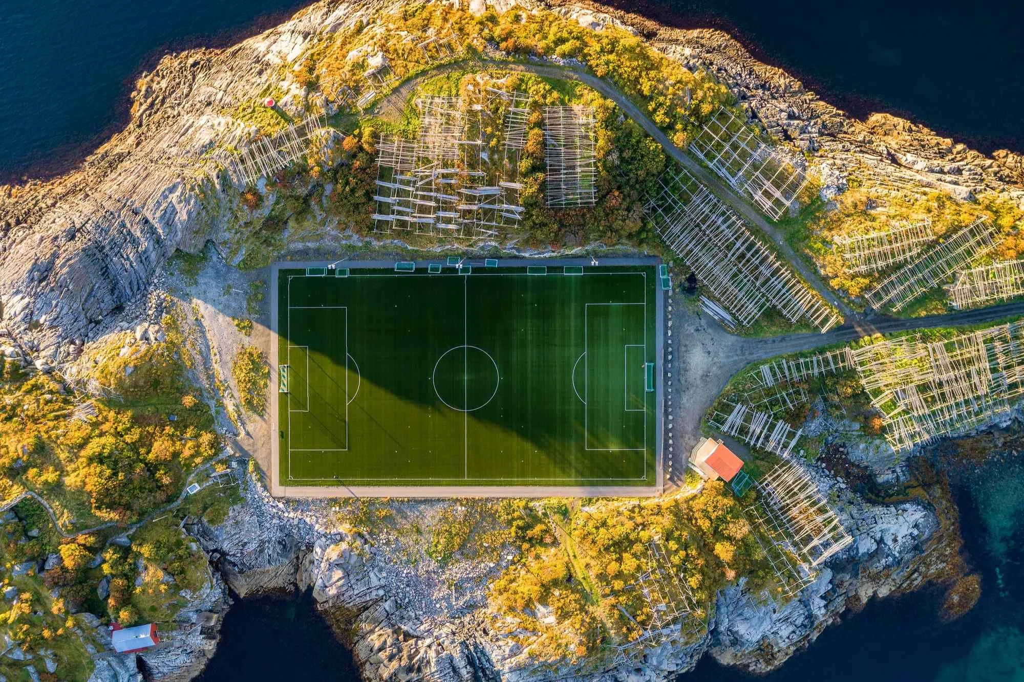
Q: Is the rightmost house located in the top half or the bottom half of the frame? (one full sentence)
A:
The rightmost house sits in the bottom half of the picture.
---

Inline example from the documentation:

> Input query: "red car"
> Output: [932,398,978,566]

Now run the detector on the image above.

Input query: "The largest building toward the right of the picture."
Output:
[707,447,748,486]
